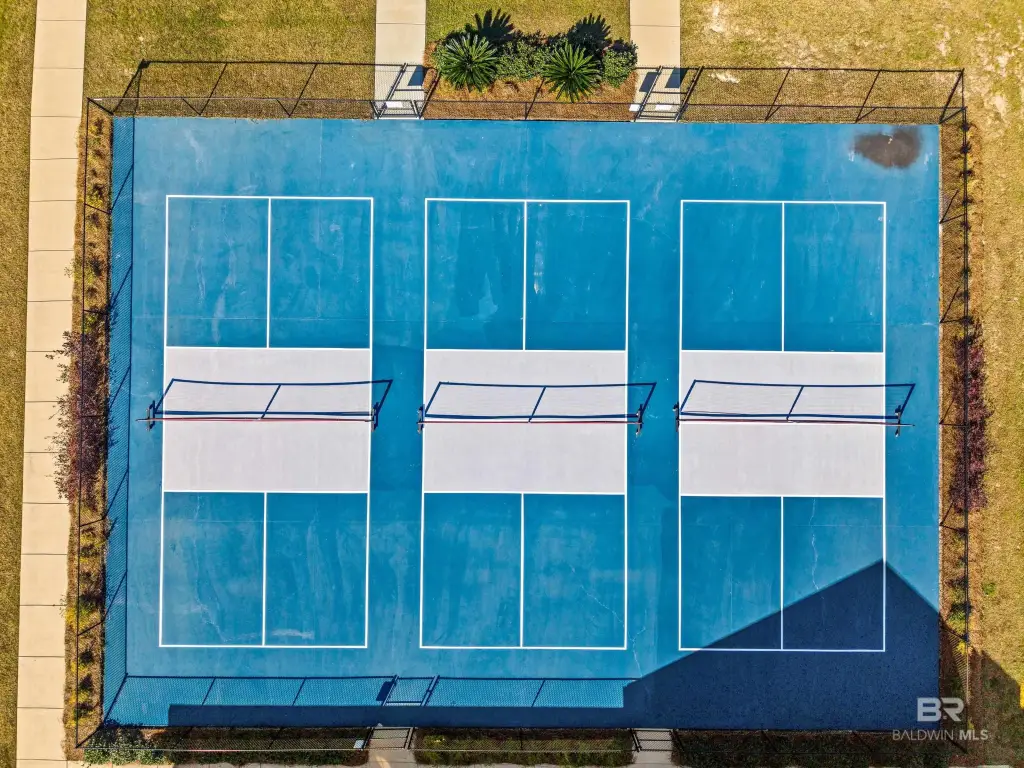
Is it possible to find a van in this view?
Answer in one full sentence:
No, I can't see a single van in this photo.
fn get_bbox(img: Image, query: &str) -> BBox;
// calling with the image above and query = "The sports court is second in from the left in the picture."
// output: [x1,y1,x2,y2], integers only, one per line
[420,198,629,650]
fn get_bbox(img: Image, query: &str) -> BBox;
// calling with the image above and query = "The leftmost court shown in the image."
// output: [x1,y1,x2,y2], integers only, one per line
[160,196,373,648]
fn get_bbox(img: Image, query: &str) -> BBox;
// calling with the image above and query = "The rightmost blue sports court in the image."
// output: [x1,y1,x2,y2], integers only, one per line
[679,200,886,652]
